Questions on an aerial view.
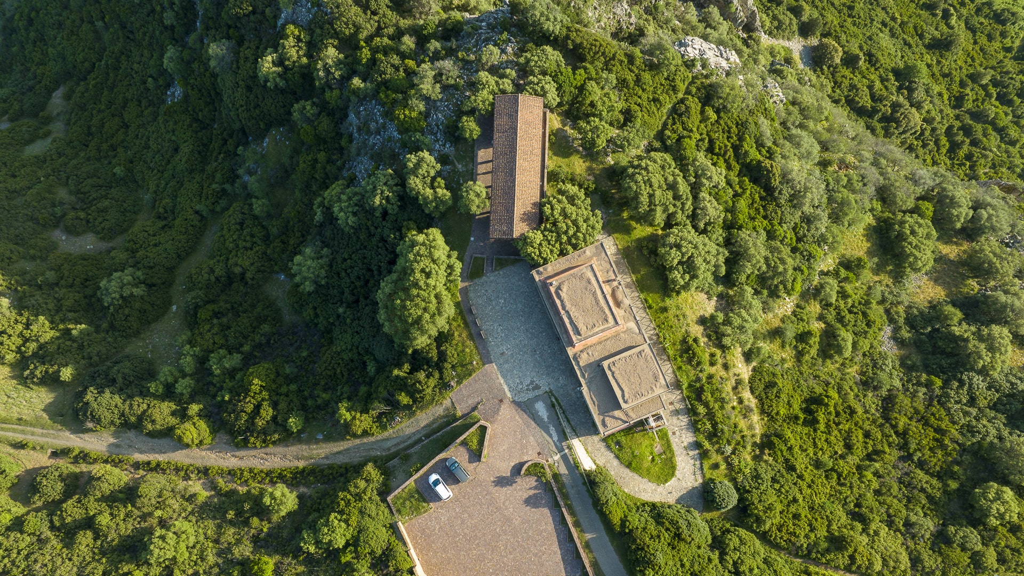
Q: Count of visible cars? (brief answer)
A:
2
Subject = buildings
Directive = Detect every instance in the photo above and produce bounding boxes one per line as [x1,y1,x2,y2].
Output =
[488,93,544,238]
[528,243,676,437]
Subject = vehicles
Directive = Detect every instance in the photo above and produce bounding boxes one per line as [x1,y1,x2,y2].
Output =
[447,455,471,486]
[430,472,453,503]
